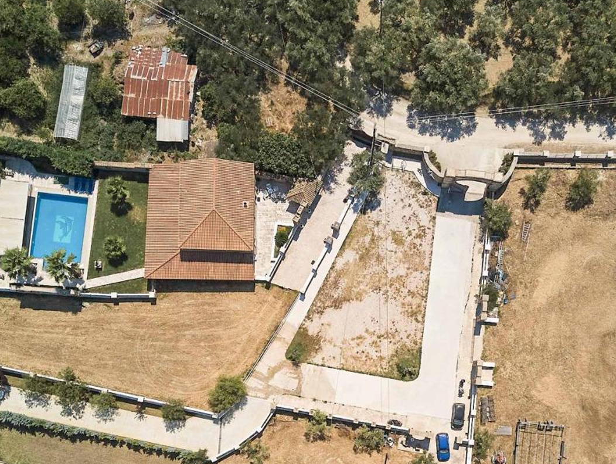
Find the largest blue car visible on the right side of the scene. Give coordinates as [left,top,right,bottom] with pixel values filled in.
[436,433,451,461]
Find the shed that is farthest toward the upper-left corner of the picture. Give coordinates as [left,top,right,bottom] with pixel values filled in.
[54,65,92,141]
